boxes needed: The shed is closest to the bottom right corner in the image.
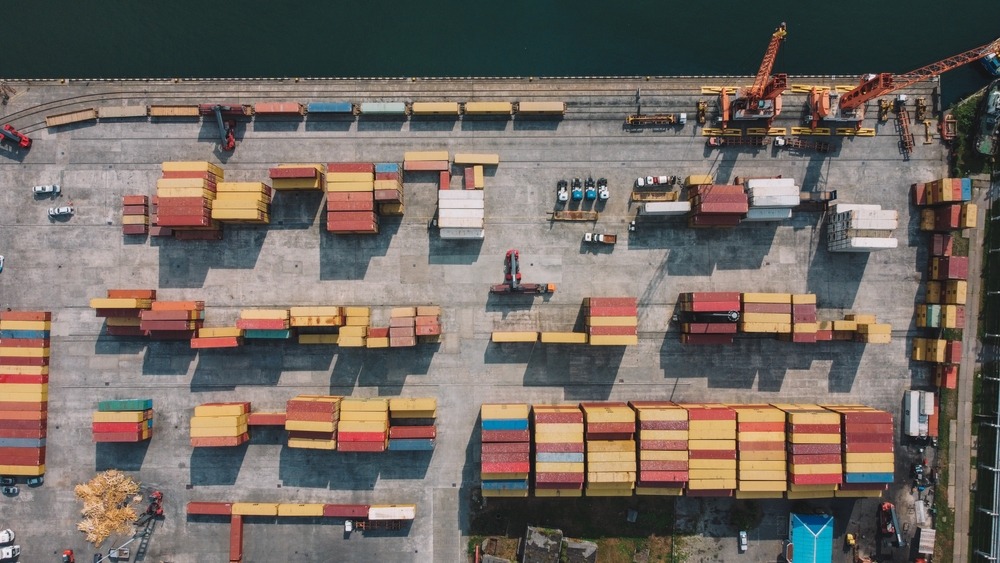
[911,525,936,554]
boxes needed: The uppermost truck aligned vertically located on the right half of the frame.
[896,95,920,158]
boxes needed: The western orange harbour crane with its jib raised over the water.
[699,29,789,136]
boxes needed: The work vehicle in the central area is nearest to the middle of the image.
[506,249,521,290]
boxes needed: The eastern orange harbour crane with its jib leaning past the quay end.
[791,36,1000,136]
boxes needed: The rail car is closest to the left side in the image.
[45,107,98,128]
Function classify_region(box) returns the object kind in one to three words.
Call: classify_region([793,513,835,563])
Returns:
building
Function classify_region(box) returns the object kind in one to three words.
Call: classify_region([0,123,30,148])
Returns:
work vehicle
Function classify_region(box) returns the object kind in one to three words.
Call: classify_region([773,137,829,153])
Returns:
vehicle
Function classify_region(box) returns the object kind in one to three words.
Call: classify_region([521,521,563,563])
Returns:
house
